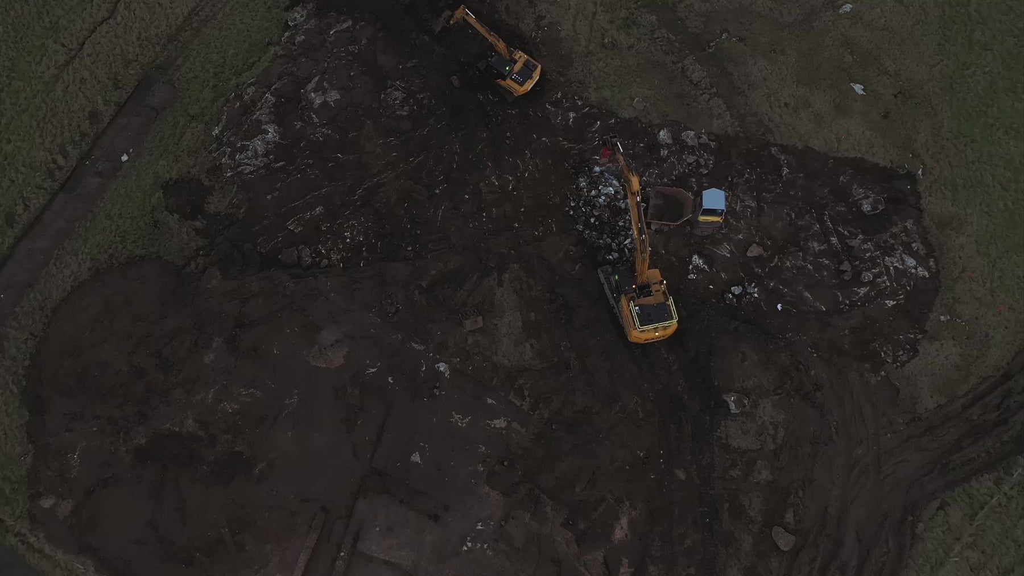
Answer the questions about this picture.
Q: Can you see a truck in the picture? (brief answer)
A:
Yes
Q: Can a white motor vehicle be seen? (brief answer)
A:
No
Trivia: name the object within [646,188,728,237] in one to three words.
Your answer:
truck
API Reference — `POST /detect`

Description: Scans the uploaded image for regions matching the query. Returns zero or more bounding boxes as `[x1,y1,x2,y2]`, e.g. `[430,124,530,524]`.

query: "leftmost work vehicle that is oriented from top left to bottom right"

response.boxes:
[431,0,544,104]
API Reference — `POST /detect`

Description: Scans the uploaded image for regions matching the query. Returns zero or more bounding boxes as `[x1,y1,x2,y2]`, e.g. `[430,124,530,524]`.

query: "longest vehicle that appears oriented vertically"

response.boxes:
[597,132,680,344]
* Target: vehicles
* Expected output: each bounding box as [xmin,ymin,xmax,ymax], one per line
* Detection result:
[431,0,544,104]
[646,188,728,237]
[597,132,680,344]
